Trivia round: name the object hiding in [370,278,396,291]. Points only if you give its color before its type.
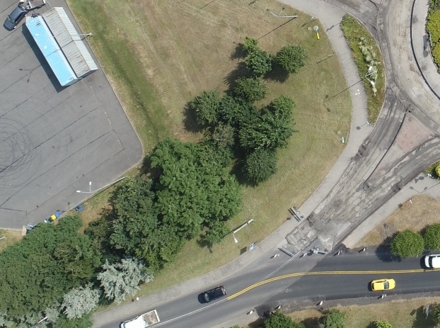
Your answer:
yellow vehicle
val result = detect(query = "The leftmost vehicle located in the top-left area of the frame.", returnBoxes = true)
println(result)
[6,3,27,30]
